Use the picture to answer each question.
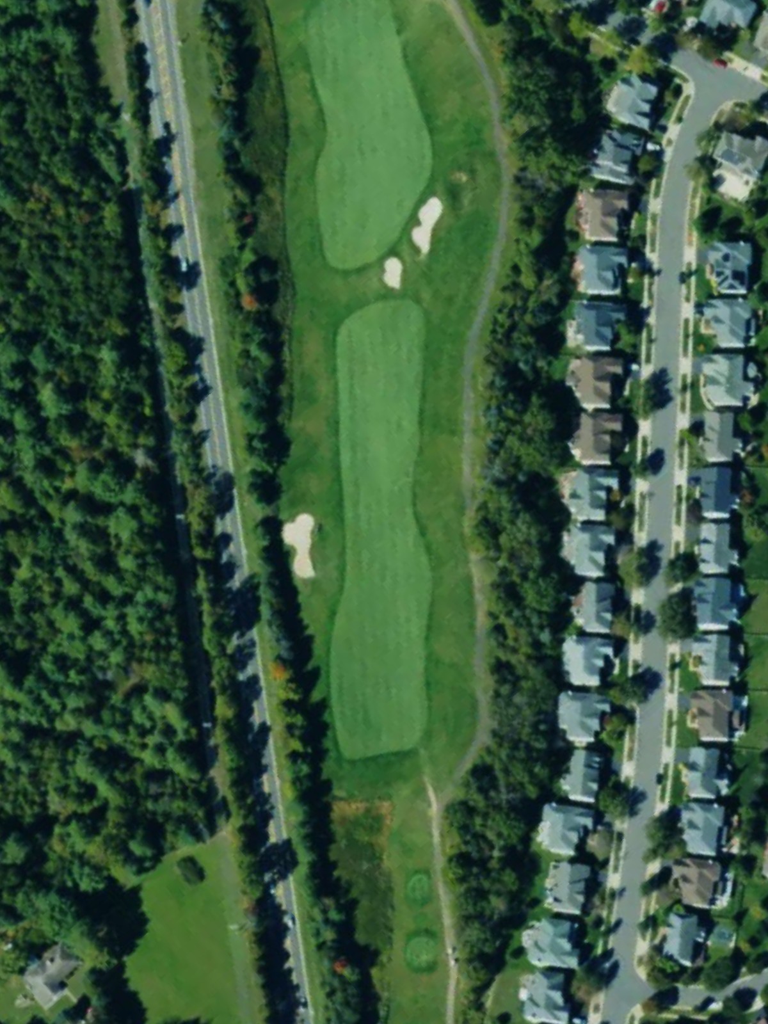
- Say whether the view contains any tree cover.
Yes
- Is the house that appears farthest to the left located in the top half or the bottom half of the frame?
bottom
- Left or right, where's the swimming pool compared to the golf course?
to its right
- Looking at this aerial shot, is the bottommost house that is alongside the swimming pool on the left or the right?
right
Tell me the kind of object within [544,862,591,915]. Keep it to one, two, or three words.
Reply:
house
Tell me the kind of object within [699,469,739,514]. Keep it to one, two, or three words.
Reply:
house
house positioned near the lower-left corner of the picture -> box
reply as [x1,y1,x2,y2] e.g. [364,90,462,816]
[23,941,81,1008]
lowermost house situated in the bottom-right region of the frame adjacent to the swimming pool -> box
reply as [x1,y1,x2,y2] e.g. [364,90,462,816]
[664,912,703,966]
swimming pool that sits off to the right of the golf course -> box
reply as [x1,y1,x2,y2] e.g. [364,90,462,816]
[709,926,736,948]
